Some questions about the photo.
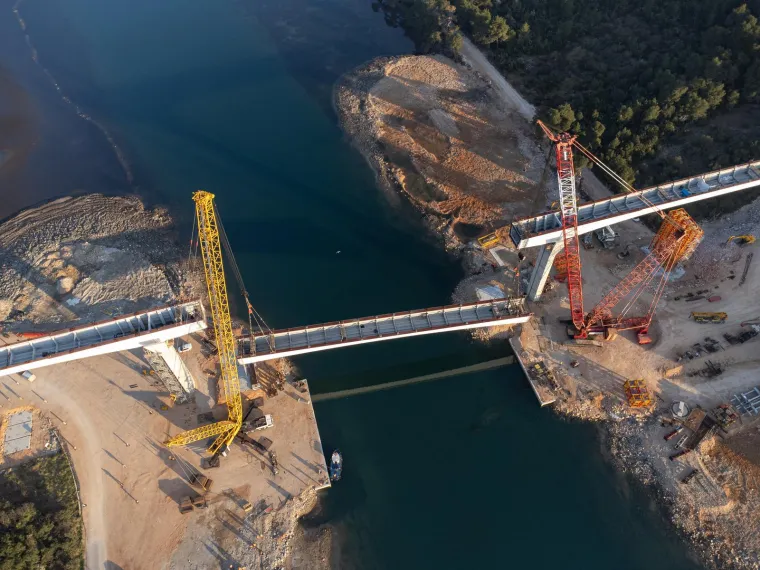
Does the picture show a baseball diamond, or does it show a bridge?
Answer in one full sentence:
The one in the frame is a bridge.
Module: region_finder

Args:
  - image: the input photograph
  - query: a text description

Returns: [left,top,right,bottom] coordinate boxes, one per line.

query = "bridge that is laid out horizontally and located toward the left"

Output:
[0,298,210,387]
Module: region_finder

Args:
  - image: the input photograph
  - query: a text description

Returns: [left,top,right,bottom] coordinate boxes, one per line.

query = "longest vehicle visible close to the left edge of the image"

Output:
[17,370,36,384]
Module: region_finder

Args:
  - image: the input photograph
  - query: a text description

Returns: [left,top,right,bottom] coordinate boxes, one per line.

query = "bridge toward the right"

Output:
[508,162,760,297]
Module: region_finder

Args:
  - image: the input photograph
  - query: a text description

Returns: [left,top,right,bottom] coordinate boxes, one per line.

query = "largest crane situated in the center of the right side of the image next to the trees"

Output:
[476,131,687,344]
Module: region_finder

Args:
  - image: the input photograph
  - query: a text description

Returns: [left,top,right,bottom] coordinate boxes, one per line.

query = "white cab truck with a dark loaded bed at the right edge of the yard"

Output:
[734,321,760,344]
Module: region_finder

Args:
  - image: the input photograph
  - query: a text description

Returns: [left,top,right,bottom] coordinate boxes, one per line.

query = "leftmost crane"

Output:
[163,189,278,494]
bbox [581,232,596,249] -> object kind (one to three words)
vehicle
